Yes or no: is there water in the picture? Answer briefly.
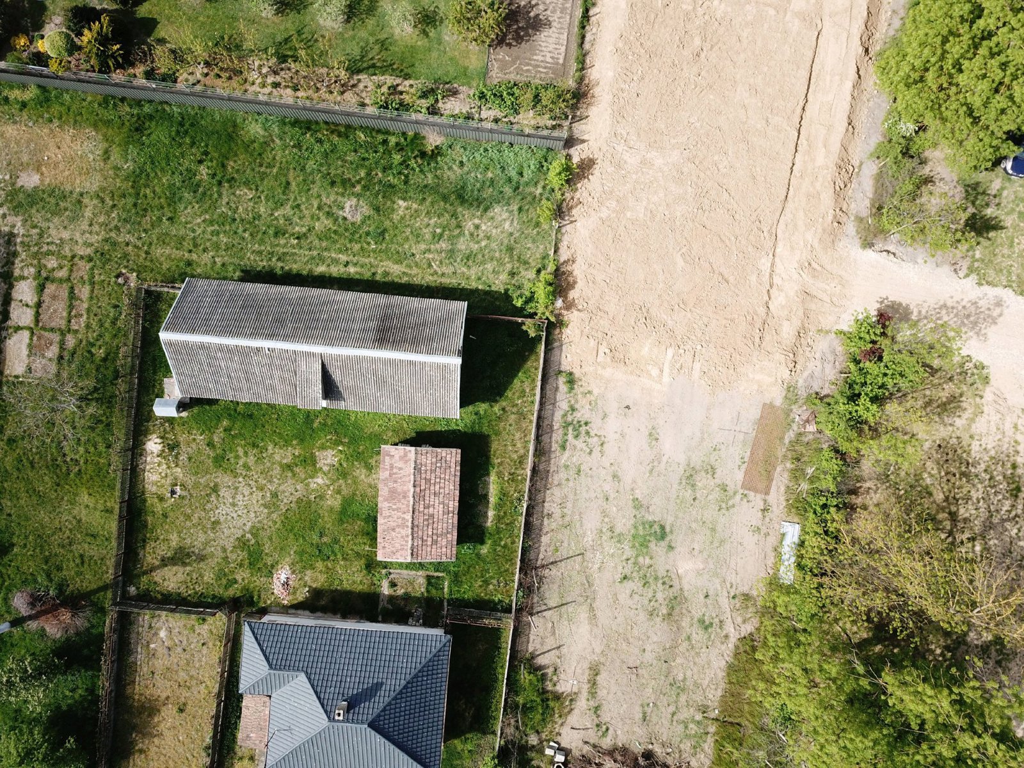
No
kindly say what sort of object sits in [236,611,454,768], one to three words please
house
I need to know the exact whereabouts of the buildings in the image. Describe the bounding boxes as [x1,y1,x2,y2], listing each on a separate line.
[156,276,469,420]
[236,611,454,768]
[365,444,461,564]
